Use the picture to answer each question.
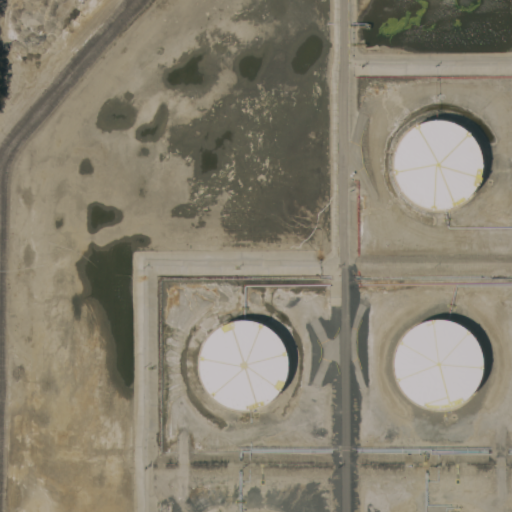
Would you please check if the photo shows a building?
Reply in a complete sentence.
No, I find no building anywhere in the image.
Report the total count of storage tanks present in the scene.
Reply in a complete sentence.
In total, 3 storage tanks can be seen.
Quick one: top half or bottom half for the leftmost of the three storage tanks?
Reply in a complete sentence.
The leftmost of the three storage tanks is in the bottom half of the image.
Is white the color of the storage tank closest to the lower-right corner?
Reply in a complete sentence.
Yes, white is the color of the storage tank closest to the lower-right corner.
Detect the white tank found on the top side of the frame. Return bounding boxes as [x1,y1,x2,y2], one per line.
[390,119,484,212]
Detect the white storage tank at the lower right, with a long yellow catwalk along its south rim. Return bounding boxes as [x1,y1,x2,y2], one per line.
[392,319,485,412]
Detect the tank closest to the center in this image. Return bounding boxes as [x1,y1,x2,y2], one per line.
[196,320,290,414]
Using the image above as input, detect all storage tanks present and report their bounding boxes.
[196,320,290,414]
[392,319,485,412]
[390,119,484,212]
